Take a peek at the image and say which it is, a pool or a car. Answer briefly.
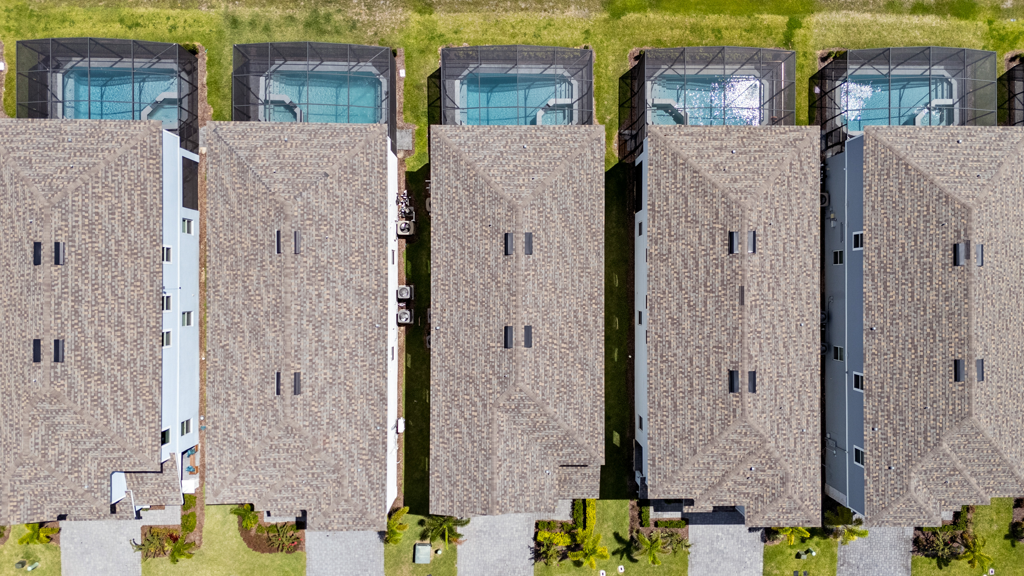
pool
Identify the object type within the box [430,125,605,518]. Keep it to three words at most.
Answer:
house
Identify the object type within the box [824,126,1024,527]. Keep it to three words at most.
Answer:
house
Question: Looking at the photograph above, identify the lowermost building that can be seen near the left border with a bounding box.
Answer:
[0,120,200,525]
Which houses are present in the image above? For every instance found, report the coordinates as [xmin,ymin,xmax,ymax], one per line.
[206,122,400,531]
[0,120,200,525]
[634,126,821,527]
[430,125,605,518]
[824,126,1024,527]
